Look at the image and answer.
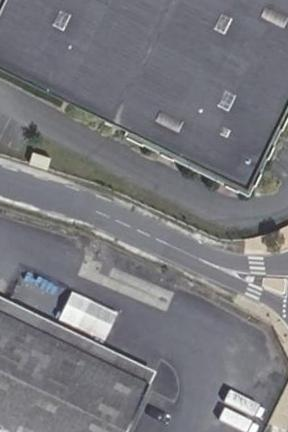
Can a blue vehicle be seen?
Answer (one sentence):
No, there is no blue vehicle in the image.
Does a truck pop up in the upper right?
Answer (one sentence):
No, no truck can be made out in the upper right.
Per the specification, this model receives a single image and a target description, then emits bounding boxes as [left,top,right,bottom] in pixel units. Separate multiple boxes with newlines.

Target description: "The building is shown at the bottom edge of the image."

[0,298,156,432]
